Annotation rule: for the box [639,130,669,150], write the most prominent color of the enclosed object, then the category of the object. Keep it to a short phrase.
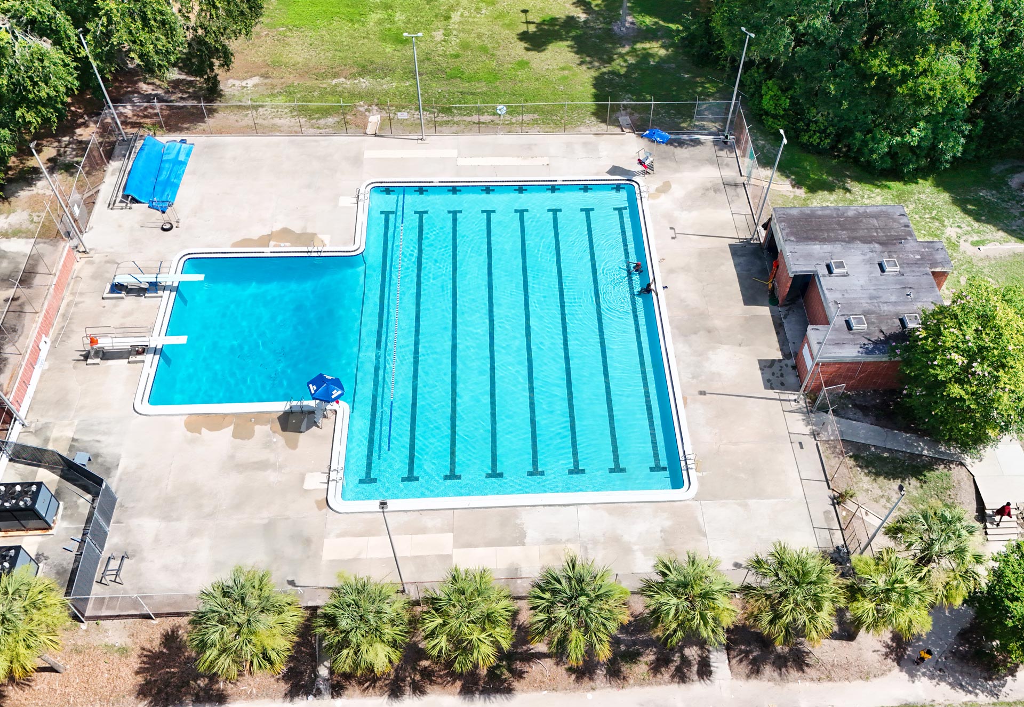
blue umbrella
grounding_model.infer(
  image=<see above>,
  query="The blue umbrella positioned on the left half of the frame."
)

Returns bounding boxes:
[304,371,348,408]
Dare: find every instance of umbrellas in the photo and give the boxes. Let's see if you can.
[304,371,348,408]
[639,130,669,150]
